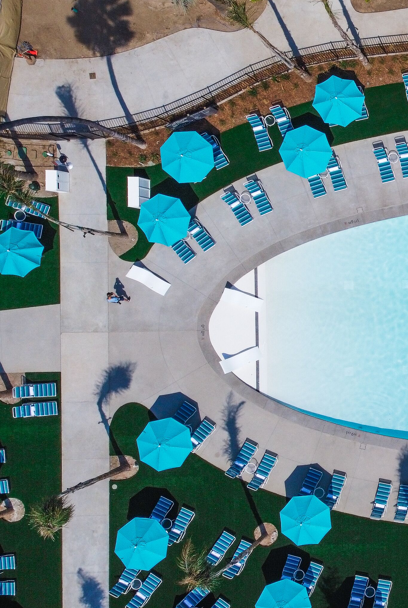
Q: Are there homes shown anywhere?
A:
No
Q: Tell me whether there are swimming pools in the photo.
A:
Yes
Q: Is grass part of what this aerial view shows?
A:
Yes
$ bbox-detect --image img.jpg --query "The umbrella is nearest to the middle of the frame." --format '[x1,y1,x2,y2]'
[138,194,192,247]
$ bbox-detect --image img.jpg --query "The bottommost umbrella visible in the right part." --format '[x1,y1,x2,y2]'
[256,577,312,608]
